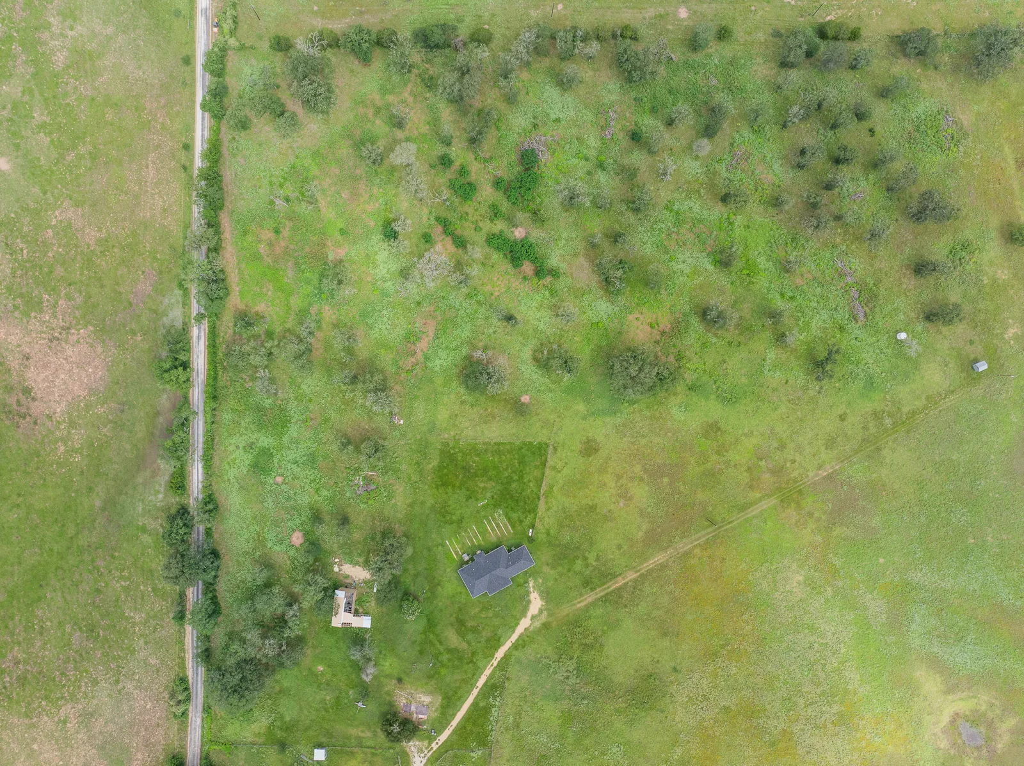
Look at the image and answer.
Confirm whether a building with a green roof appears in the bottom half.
No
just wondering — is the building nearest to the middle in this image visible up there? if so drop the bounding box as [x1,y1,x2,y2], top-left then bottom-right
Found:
[457,544,536,599]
